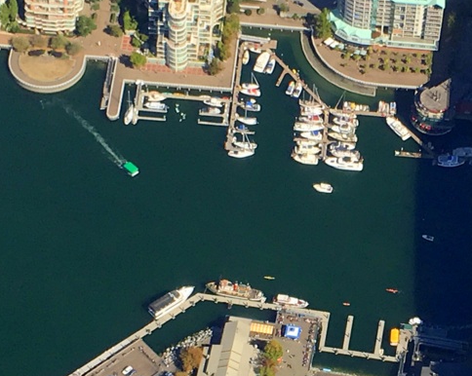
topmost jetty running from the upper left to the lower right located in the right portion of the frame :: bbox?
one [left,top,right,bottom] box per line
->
[269,42,310,88]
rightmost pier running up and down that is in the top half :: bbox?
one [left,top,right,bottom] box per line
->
[319,104,341,161]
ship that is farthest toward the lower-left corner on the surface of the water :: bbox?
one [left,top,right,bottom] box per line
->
[149,283,197,314]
